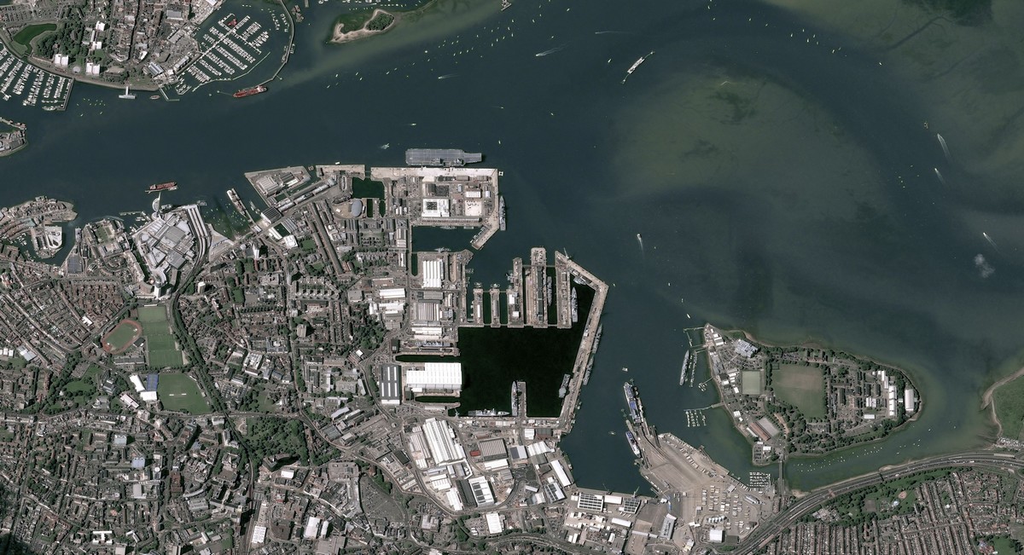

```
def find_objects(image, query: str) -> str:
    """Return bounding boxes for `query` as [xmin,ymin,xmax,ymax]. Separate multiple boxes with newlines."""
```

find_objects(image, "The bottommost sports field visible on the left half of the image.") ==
[158,372,210,413]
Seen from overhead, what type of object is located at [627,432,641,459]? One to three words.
ship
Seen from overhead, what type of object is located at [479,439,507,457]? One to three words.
shed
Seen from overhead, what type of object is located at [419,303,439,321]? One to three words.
building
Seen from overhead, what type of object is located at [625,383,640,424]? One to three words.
ship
